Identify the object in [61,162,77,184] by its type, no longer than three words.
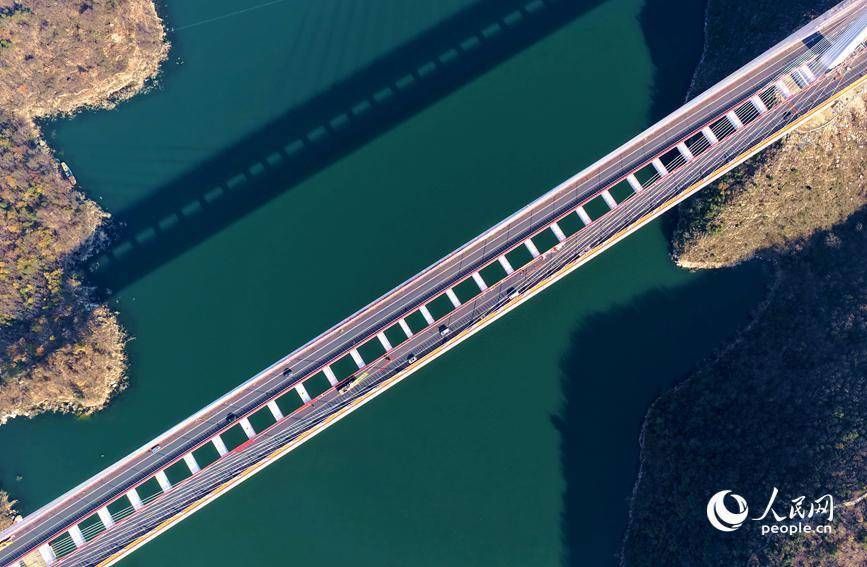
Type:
boat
